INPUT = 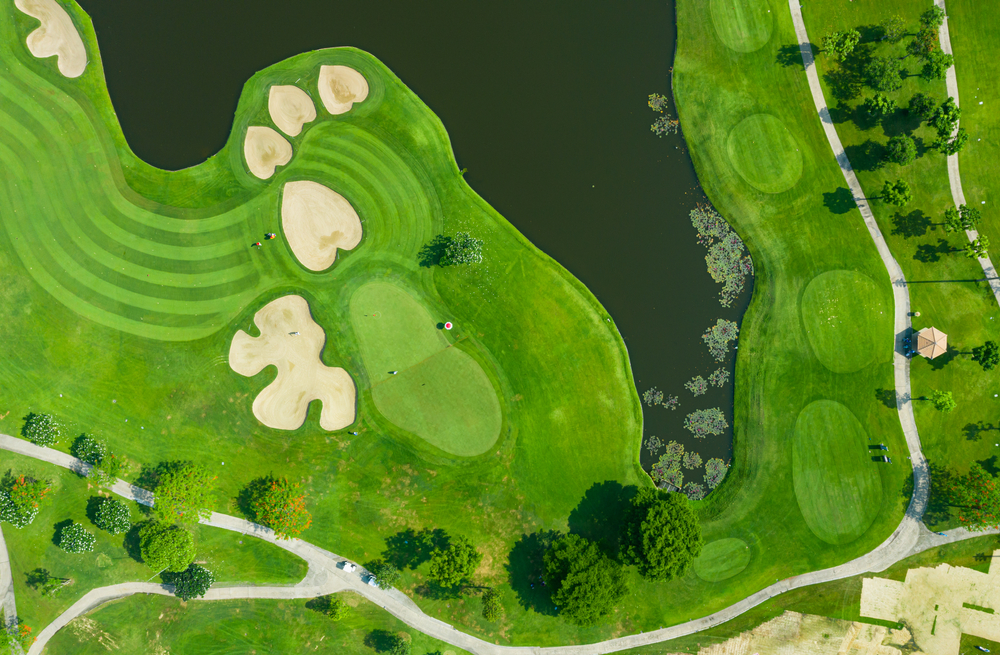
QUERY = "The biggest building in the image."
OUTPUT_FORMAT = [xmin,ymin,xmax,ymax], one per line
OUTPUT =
[910,326,947,360]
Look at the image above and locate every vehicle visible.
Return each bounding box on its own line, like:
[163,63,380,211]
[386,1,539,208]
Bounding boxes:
[342,561,355,573]
[368,575,381,587]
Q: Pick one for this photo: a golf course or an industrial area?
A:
golf course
